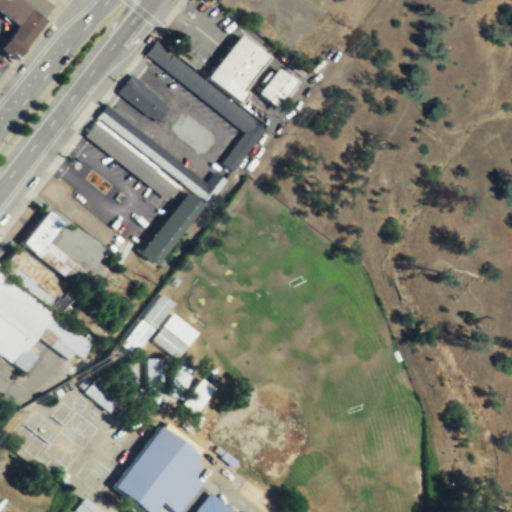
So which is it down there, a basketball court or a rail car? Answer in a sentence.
It is a basketball court that can be seen here.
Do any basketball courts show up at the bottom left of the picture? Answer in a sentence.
Yes, you'll find a basketball court at the bottom left of the picture.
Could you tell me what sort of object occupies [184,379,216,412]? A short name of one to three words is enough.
house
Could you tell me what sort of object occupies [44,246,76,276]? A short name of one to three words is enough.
building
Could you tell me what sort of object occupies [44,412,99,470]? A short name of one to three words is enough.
basketball court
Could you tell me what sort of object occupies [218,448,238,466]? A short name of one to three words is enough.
vehicle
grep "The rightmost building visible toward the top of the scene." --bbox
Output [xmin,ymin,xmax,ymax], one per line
[262,68,301,106]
